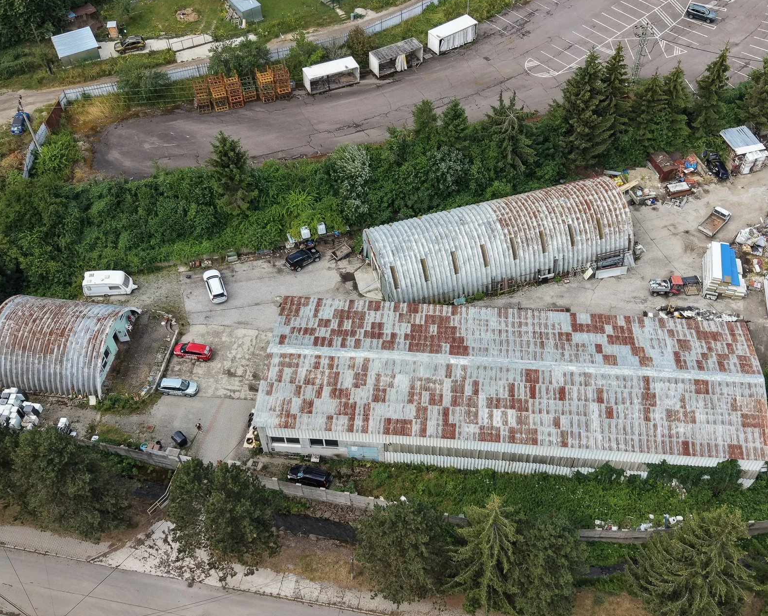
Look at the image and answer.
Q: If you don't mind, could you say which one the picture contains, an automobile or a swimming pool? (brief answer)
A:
automobile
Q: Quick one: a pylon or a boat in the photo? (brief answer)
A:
pylon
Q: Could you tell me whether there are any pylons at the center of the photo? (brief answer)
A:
No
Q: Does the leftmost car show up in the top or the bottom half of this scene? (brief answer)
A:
top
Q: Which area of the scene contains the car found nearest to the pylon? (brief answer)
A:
top right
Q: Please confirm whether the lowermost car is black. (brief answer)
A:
Yes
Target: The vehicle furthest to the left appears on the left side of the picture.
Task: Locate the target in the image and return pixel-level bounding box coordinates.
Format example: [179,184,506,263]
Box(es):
[5,112,27,133]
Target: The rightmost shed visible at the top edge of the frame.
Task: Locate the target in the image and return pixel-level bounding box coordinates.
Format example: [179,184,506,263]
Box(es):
[228,0,262,23]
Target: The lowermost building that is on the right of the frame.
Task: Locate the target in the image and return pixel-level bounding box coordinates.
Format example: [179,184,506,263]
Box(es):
[253,295,768,487]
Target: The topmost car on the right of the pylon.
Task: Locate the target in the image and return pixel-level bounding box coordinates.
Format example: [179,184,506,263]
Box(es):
[686,2,717,23]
